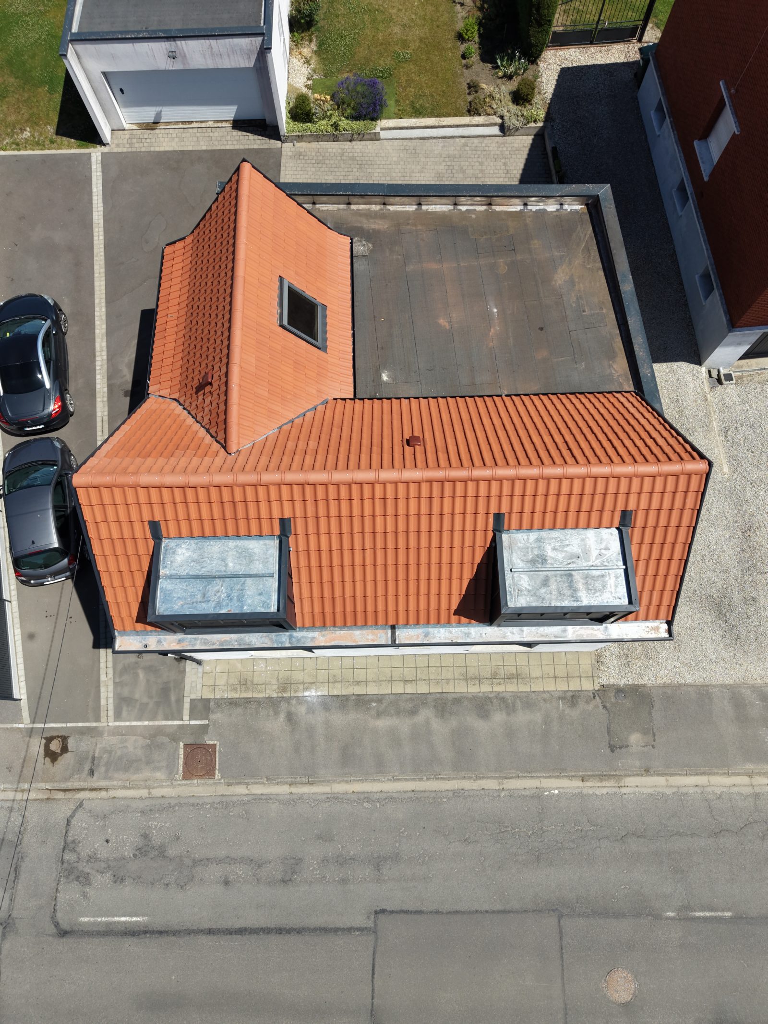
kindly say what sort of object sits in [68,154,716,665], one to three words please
house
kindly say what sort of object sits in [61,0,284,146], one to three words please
building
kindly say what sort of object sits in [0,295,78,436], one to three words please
car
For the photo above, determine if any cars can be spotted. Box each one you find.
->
[0,437,90,589]
[0,295,78,436]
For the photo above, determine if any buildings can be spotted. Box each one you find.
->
[61,0,284,146]
[638,0,768,367]
[68,154,716,665]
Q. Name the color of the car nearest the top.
black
